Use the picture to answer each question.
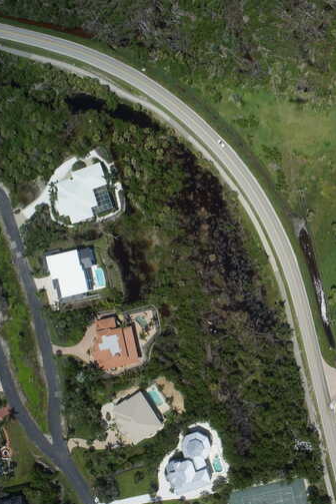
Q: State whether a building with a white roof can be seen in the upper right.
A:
No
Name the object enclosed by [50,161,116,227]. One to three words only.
house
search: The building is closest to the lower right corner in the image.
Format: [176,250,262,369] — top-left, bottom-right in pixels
[162,428,213,498]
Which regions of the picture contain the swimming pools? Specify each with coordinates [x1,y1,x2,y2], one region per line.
[213,456,223,473]
[135,315,148,327]
[94,266,106,287]
[148,390,165,405]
